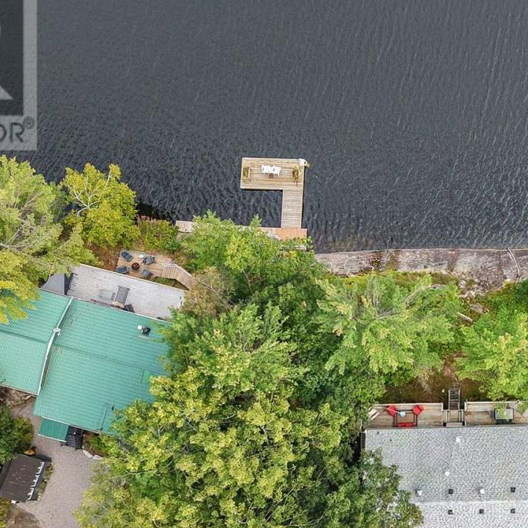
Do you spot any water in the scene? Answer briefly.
Yes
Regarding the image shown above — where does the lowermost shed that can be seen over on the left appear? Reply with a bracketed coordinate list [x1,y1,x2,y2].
[2,453,57,502]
